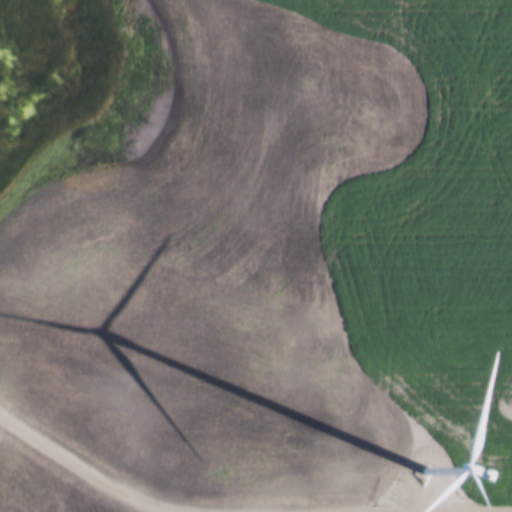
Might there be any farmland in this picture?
Yes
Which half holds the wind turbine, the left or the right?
right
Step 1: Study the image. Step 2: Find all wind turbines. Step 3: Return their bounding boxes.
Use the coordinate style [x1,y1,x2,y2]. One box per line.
[422,353,499,512]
